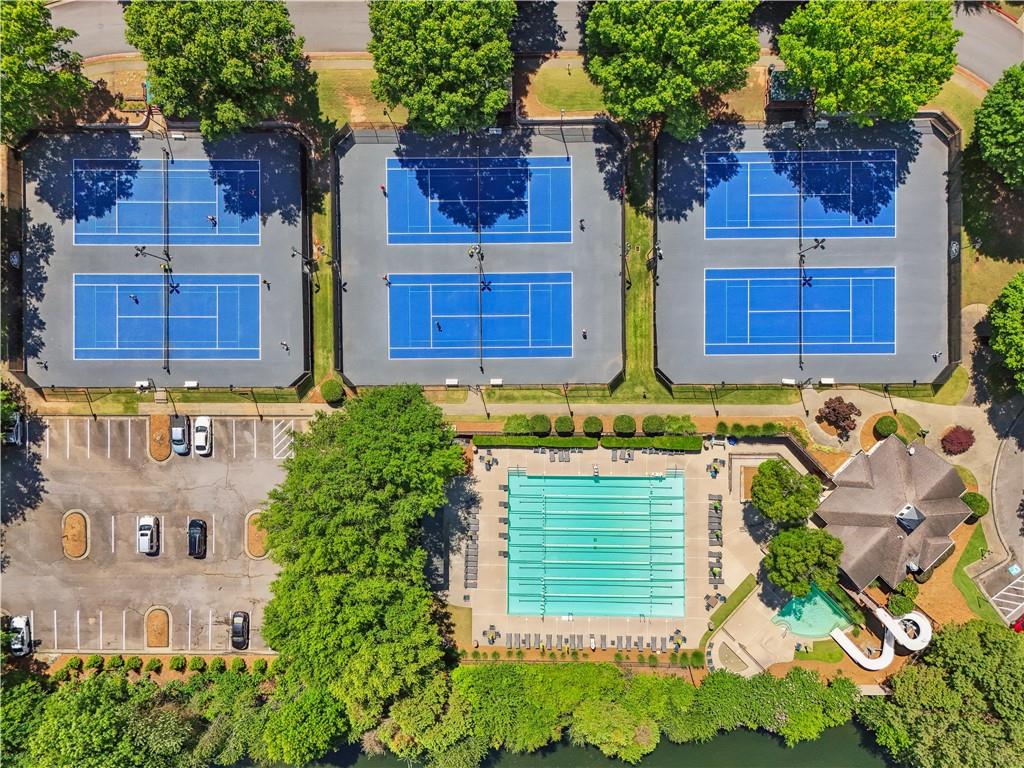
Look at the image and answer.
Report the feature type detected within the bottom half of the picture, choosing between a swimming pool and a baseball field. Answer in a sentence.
It is a swimming pool that can be seen within the bottom half of the picture.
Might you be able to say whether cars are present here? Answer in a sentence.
Yes, the picture does show a car.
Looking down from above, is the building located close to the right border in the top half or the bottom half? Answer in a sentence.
The building located close to the right border sits in the bottom half of the picture.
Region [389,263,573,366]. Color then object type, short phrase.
blue tennis court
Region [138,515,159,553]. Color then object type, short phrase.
white car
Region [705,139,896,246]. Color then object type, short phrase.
blue tennis court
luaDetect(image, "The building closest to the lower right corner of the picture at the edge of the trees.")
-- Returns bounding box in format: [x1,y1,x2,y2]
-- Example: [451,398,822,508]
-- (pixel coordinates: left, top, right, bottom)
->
[810,432,973,591]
